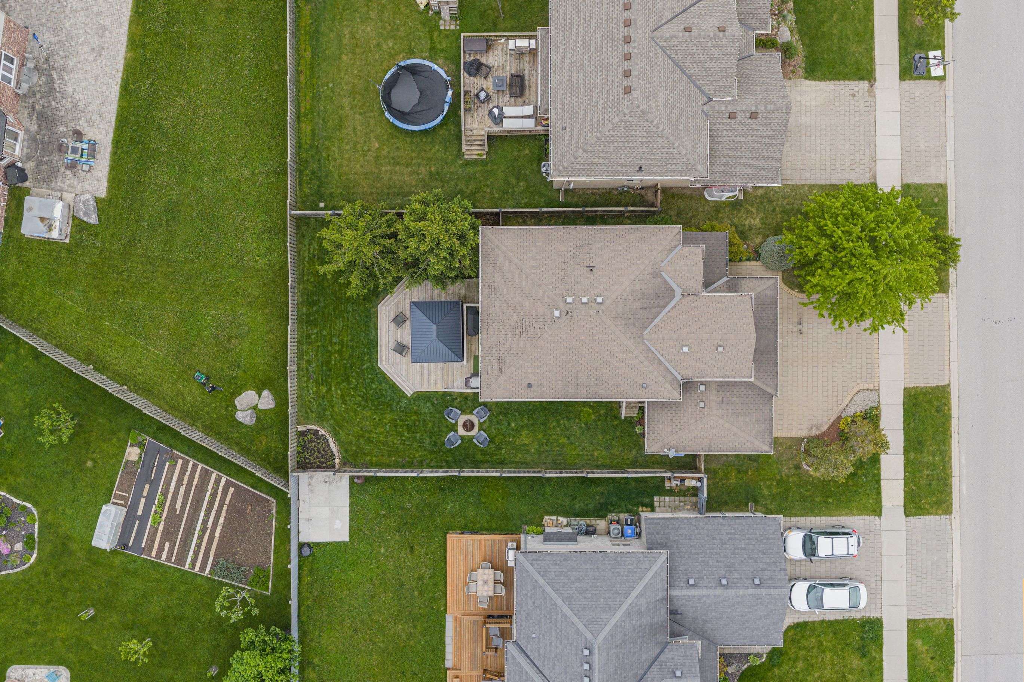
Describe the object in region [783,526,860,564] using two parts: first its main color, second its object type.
white car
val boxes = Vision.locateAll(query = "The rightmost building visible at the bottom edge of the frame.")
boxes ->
[505,514,791,682]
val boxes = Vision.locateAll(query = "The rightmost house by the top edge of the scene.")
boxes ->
[538,0,792,191]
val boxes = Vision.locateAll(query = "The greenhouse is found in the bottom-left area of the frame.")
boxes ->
[85,504,130,555]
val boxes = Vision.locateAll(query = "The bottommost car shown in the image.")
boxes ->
[788,576,866,616]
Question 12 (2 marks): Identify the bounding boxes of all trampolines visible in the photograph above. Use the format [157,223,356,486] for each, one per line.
[370,58,452,130]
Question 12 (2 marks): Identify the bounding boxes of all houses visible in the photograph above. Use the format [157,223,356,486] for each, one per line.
[505,514,791,682]
[479,225,778,454]
[0,2,29,232]
[538,0,792,191]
